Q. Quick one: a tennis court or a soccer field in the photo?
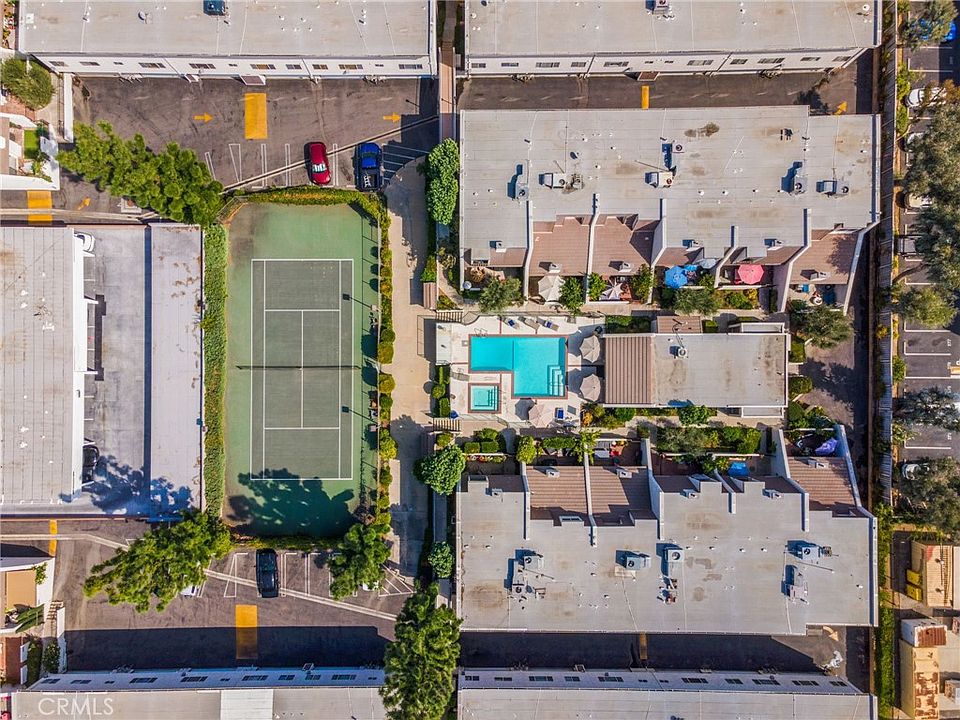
tennis court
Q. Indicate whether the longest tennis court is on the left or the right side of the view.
left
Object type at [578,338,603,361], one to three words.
umbrella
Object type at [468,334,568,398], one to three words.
swimming pool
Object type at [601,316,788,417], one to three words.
building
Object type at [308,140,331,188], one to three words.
car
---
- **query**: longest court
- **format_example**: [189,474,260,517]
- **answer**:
[227,206,382,540]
